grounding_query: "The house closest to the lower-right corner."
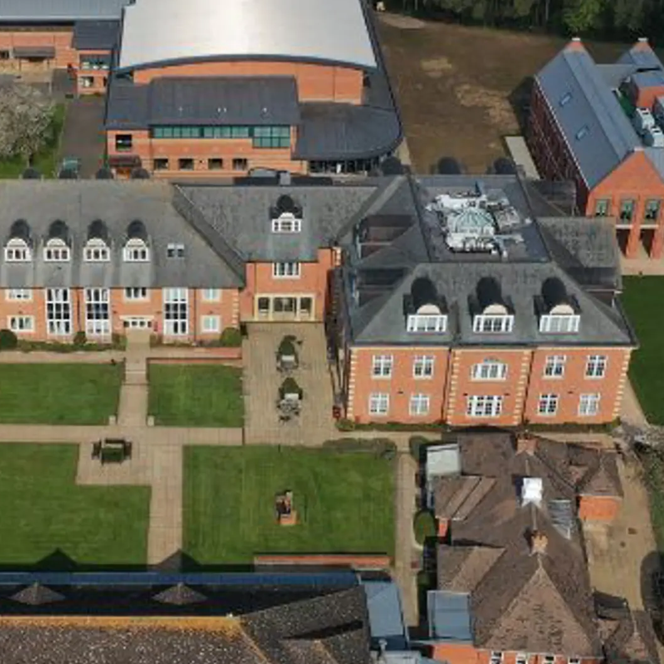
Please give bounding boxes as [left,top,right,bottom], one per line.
[414,426,663,664]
